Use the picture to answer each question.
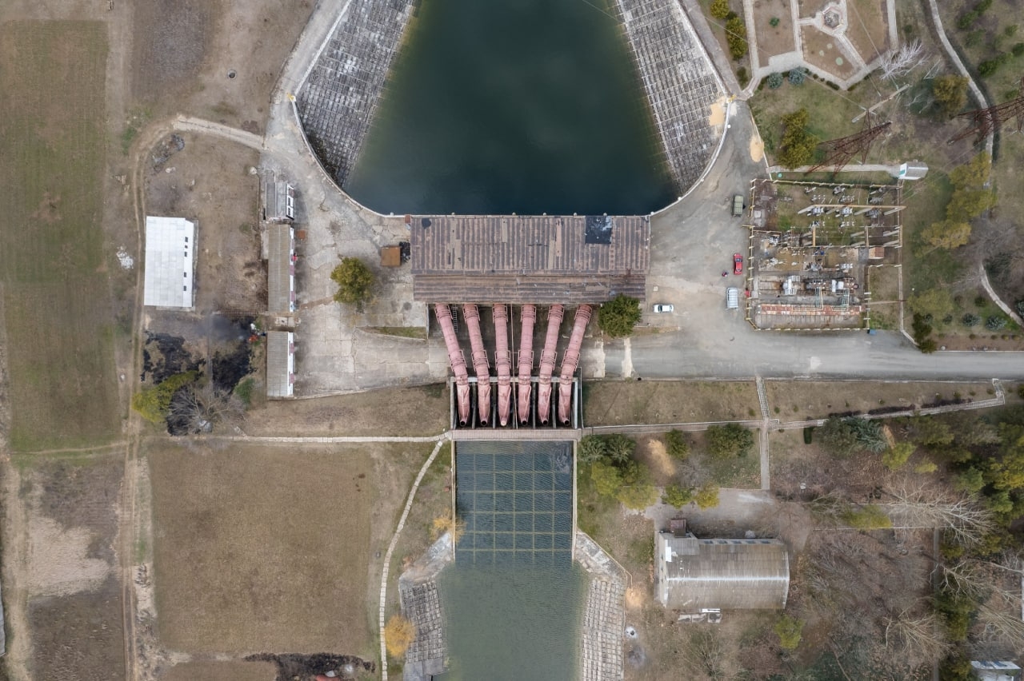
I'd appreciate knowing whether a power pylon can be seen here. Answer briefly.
Yes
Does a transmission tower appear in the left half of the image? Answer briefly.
No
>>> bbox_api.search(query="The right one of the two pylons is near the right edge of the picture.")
[946,69,1024,148]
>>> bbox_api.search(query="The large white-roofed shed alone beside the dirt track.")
[145,216,194,308]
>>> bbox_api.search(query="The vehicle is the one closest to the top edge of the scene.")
[731,195,744,217]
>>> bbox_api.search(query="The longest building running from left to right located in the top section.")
[411,216,650,304]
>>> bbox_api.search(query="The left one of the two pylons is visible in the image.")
[806,101,891,177]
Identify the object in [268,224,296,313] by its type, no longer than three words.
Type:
building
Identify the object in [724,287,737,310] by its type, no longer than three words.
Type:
vehicle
